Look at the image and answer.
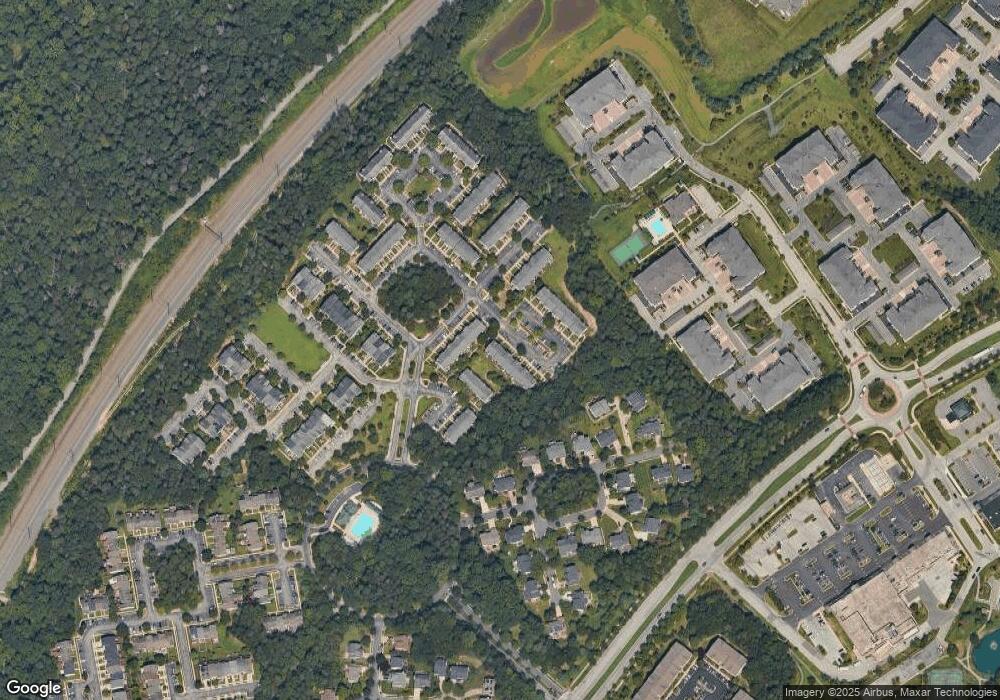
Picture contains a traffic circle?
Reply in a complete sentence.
Yes, there's a traffic circle down there.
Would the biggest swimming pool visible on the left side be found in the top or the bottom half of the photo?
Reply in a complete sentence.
You can find the biggest swimming pool visible on the left side in the bottom half.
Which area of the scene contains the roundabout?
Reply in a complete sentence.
The roundabout sits in the right section of the image.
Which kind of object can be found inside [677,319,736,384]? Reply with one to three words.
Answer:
building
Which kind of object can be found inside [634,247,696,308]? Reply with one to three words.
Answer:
building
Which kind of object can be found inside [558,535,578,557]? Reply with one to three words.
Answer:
house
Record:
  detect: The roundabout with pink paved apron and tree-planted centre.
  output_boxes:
[839,353,930,439]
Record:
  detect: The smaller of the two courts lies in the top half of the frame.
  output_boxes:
[609,230,650,267]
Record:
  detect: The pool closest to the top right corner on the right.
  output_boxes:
[639,207,674,245]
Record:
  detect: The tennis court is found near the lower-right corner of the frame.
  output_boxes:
[926,666,966,700]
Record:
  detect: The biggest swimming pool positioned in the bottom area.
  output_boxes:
[345,503,381,545]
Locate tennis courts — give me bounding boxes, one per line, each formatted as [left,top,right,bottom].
[926,666,966,700]
[609,230,650,267]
